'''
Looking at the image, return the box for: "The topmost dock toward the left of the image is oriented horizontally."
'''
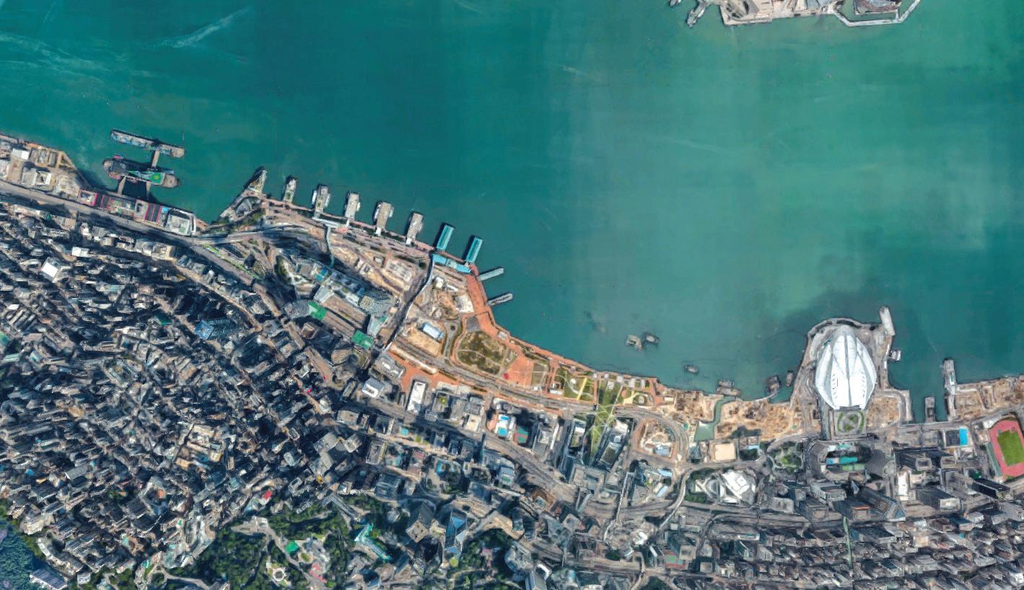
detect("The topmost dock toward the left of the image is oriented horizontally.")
[111,130,186,157]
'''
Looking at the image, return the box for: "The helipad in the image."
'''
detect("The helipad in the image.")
[128,171,165,186]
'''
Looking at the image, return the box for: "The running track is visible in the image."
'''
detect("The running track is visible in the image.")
[989,419,1024,481]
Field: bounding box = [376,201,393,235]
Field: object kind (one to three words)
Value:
pier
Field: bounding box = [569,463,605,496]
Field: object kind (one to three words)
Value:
building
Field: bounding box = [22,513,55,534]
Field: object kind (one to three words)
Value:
house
